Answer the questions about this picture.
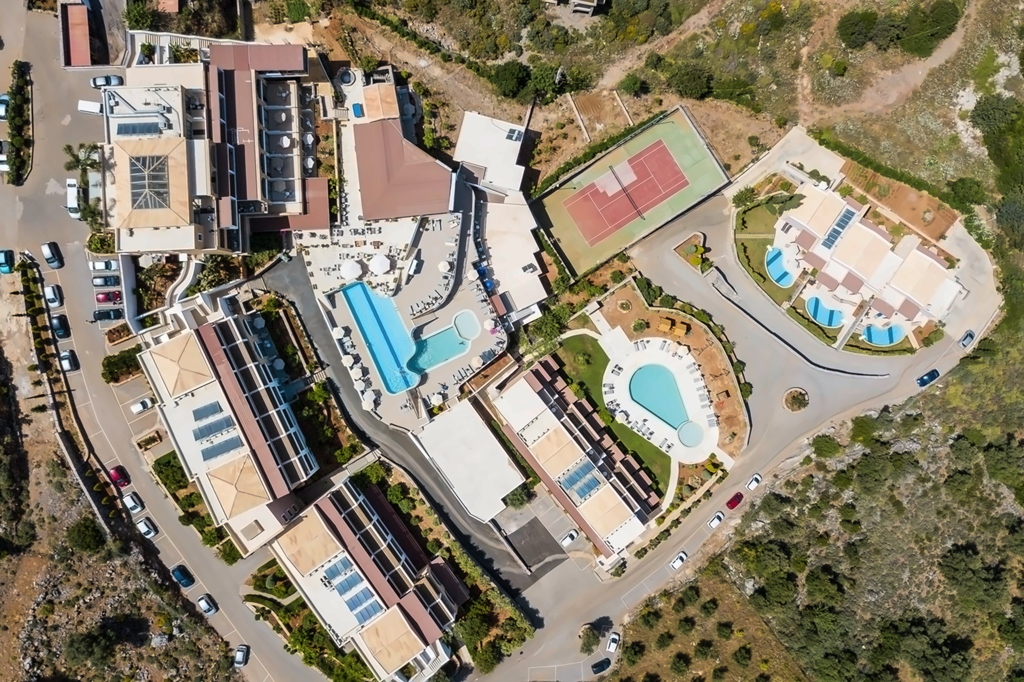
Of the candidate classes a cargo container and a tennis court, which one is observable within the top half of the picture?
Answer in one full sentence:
The feature located within the top half of the picture is a tennis court.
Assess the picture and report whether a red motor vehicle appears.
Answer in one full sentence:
Yes, a red motor vehicle appears in the view.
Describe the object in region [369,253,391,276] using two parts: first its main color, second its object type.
white umbrella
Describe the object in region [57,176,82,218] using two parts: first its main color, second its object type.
white vehicle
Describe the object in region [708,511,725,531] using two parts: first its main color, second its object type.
white car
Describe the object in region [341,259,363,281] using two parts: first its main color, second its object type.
white umbrella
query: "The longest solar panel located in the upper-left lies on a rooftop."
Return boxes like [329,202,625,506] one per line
[117,123,160,135]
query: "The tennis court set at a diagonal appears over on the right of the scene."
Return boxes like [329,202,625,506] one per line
[533,107,729,277]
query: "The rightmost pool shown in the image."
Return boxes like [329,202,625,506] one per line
[862,323,906,347]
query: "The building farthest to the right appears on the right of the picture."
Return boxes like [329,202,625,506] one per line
[866,245,962,321]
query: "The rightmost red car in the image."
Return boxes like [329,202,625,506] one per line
[727,492,744,512]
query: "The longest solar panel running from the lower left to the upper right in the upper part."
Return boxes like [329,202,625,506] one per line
[821,208,856,249]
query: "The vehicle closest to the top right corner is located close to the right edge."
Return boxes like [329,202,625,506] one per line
[959,328,977,348]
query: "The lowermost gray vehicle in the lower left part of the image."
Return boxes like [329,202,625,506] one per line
[234,645,248,670]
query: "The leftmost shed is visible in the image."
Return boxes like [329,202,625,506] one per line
[67,5,101,68]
